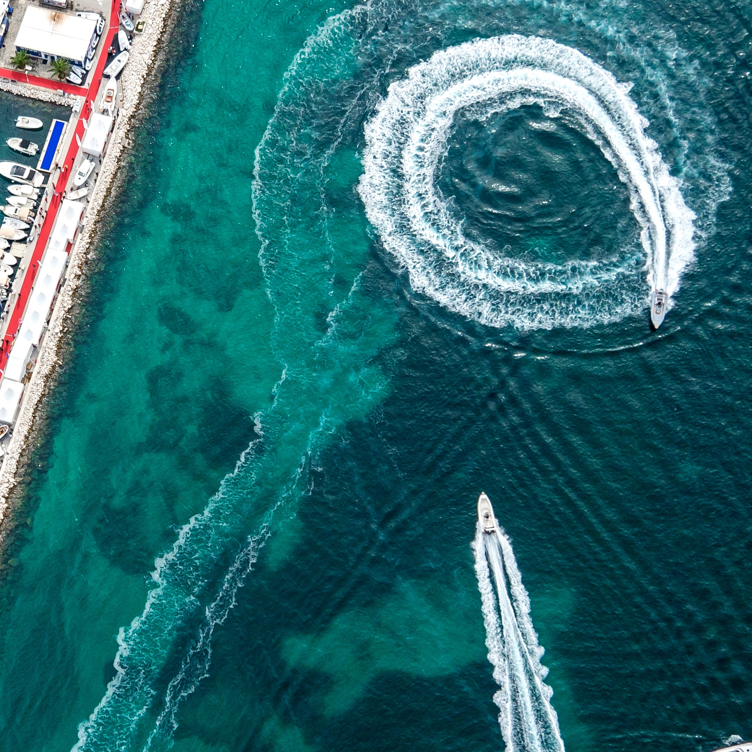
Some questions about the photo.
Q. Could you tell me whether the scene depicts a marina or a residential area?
marina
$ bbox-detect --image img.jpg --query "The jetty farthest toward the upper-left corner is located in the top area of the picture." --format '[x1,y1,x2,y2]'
[36,118,67,173]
